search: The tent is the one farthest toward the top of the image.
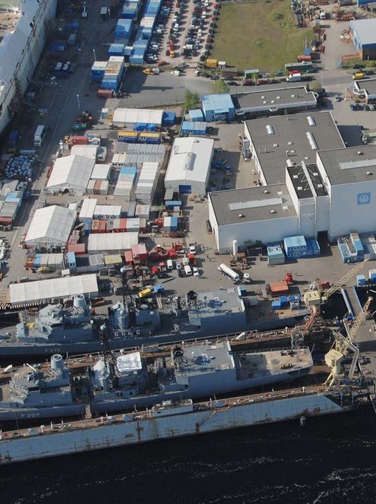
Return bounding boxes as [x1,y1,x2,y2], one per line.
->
[113,108,163,130]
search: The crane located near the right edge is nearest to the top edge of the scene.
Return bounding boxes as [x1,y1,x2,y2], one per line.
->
[295,264,367,339]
